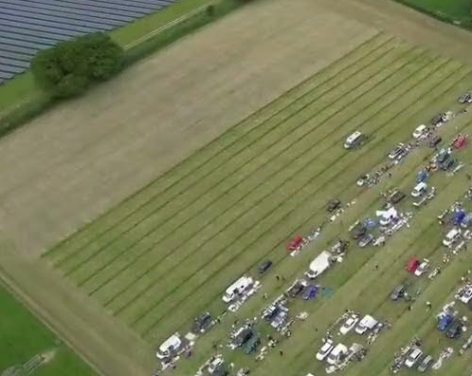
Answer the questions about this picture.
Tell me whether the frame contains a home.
No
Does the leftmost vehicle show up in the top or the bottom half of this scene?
bottom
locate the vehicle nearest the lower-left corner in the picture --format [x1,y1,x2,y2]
[157,332,184,358]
